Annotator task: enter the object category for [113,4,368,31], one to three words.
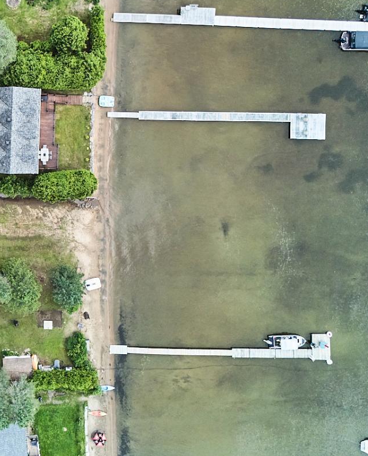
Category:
pier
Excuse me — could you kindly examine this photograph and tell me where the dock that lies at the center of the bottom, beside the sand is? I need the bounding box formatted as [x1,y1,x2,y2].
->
[109,331,333,364]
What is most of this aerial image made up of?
water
